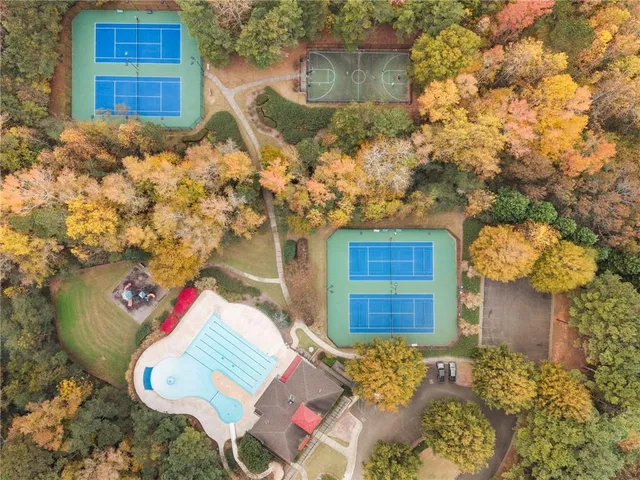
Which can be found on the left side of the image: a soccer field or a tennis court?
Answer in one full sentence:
The feature located on the left side of the image is a tennis court.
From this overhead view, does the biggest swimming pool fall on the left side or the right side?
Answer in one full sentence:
It is on the left.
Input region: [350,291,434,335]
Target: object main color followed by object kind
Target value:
blue tennis court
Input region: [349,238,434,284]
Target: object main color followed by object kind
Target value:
blue tennis court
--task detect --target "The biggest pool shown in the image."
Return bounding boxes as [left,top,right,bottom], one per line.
[142,309,282,422]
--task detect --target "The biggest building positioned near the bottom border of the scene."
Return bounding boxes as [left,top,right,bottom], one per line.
[249,354,344,462]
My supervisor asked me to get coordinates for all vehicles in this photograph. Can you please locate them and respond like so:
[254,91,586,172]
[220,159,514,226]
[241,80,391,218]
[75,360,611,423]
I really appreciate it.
[448,361,457,382]
[436,361,445,382]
